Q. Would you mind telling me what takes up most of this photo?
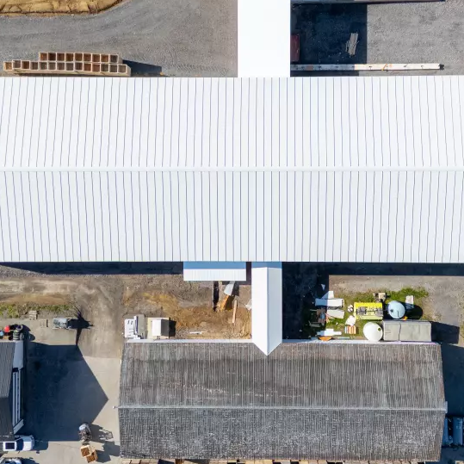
buildings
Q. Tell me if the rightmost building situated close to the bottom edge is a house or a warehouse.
warehouse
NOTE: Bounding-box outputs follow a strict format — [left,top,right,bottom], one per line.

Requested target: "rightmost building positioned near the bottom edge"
[119,339,448,461]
